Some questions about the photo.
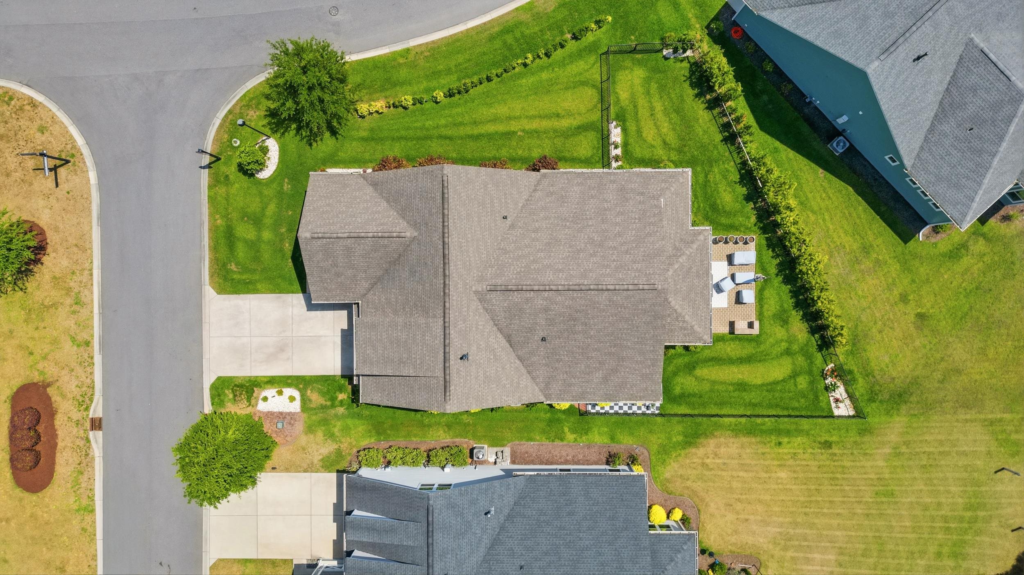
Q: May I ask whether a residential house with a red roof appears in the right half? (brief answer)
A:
No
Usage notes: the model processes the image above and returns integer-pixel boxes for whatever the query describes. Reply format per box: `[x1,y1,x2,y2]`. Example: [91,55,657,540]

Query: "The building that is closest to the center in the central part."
[299,165,714,413]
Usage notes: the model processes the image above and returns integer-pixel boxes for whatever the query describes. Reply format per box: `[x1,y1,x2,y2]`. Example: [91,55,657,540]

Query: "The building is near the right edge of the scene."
[730,0,1024,234]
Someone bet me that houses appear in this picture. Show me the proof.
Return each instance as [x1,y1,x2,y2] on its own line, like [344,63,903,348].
[342,464,700,575]
[299,165,714,413]
[730,0,1024,234]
